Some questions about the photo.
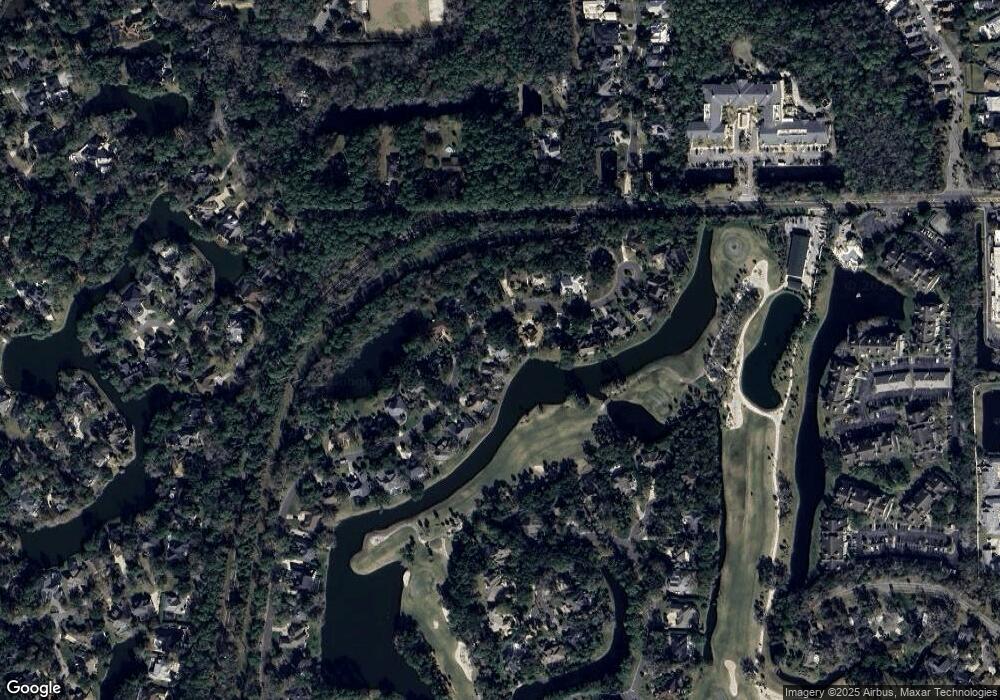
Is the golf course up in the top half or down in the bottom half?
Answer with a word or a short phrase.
bottom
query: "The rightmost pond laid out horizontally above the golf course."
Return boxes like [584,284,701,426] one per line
[753,166,846,193]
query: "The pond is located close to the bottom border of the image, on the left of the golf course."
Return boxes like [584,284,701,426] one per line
[100,636,148,700]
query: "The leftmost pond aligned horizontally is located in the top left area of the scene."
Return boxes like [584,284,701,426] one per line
[87,86,188,133]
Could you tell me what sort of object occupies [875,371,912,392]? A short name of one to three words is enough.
building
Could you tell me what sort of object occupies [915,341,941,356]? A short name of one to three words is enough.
building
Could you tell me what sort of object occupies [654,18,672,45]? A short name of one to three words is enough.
house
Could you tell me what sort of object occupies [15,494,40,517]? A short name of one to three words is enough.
house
